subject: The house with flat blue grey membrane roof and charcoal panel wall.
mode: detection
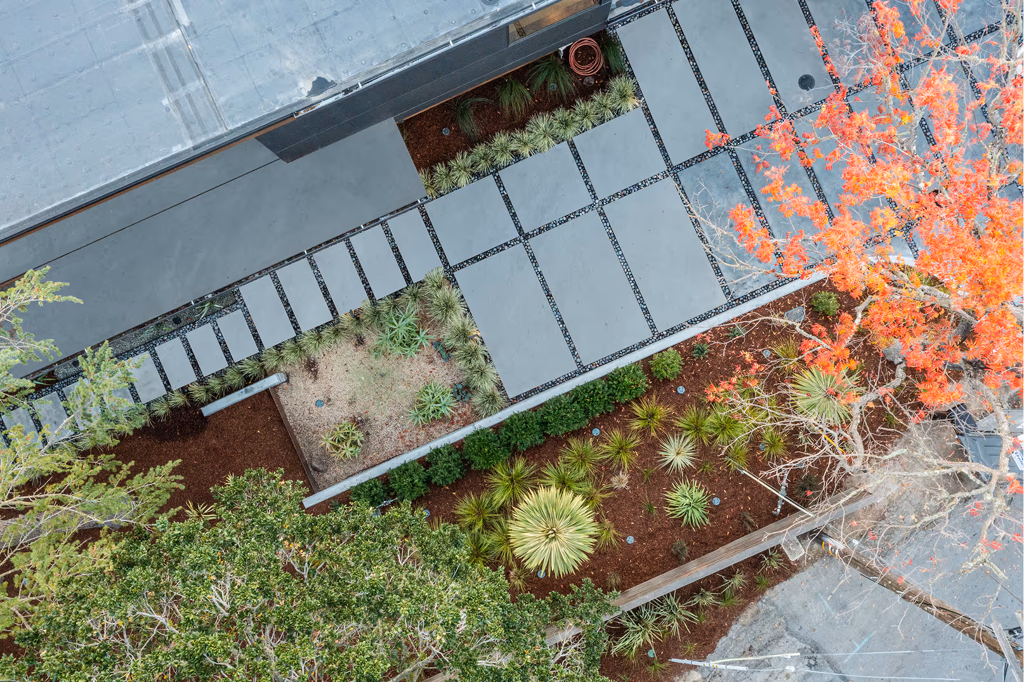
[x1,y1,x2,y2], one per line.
[0,0,615,248]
